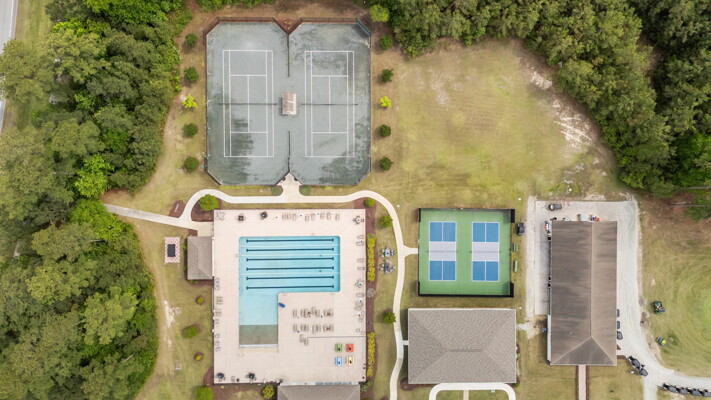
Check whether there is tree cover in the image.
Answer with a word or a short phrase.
Yes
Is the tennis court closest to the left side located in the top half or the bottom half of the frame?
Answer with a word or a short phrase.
top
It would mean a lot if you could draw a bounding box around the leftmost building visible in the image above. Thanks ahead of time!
[187,236,216,280]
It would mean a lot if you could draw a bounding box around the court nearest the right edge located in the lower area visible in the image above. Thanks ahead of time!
[465,209,512,294]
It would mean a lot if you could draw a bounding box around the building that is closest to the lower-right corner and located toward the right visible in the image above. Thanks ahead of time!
[542,221,617,365]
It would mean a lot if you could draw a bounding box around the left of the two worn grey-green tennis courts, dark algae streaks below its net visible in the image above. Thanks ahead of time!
[206,22,289,185]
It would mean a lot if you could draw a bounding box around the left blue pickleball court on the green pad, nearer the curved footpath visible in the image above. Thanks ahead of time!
[421,209,465,294]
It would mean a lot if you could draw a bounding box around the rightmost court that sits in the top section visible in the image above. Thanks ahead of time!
[289,23,371,185]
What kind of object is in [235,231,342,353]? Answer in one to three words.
swimming pool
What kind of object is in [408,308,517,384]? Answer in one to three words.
building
